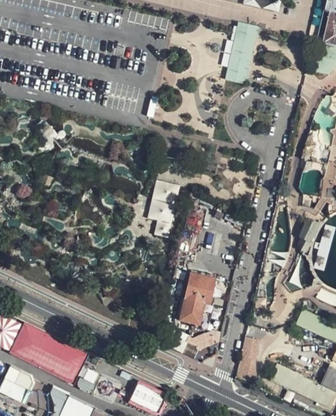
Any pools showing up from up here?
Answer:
Yes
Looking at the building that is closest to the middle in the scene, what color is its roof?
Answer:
white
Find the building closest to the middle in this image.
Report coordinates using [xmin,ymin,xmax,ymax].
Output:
[148,179,178,235]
